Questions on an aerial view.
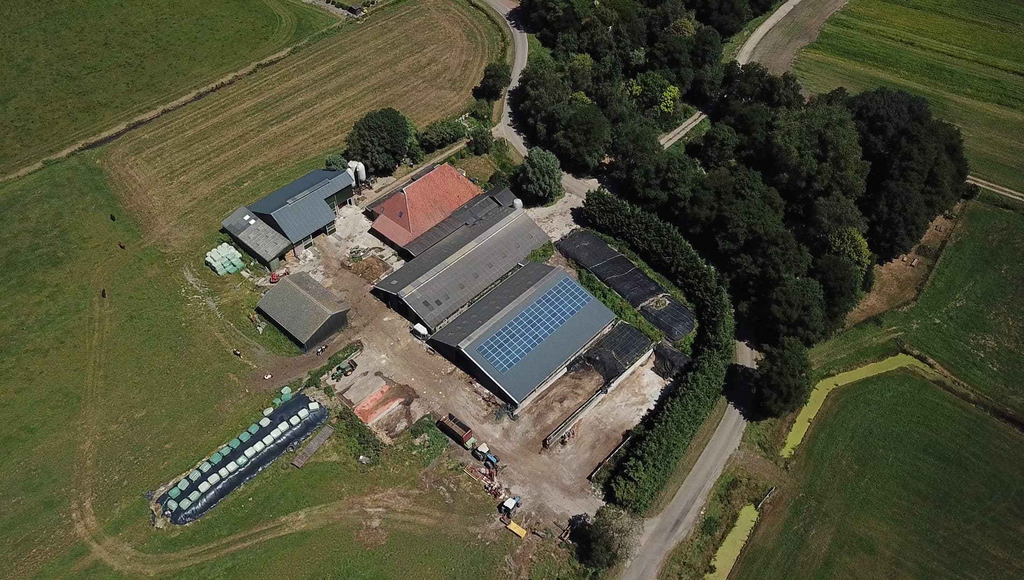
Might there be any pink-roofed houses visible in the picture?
Yes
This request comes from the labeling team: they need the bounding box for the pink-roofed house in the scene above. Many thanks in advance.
[365,161,483,254]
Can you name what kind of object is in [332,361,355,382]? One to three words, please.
work vehicle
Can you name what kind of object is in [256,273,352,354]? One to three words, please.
shed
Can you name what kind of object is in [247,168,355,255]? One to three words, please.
barn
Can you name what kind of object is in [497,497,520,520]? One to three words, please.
work vehicle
